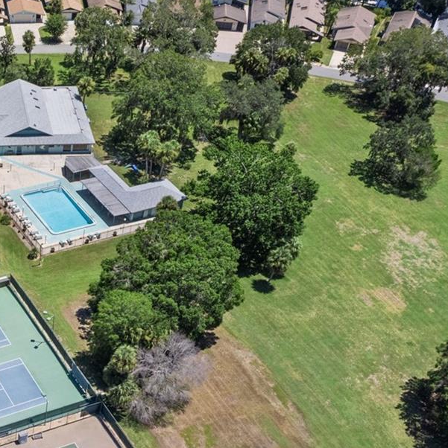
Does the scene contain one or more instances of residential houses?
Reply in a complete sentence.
Yes, a residential house can be made out from above.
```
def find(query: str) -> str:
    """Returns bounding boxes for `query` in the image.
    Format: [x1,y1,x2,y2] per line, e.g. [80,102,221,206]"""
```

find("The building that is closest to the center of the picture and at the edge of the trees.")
[80,165,186,226]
